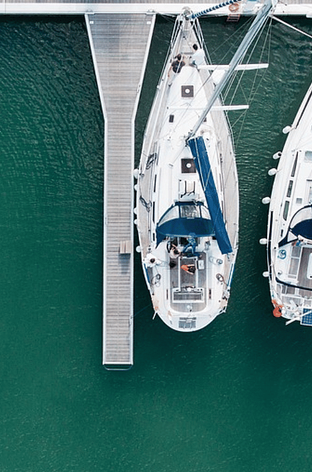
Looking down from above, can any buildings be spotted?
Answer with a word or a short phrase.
No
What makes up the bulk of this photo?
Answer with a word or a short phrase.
water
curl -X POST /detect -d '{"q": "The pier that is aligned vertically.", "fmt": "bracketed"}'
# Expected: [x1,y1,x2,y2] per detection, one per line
[86,12,155,371]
